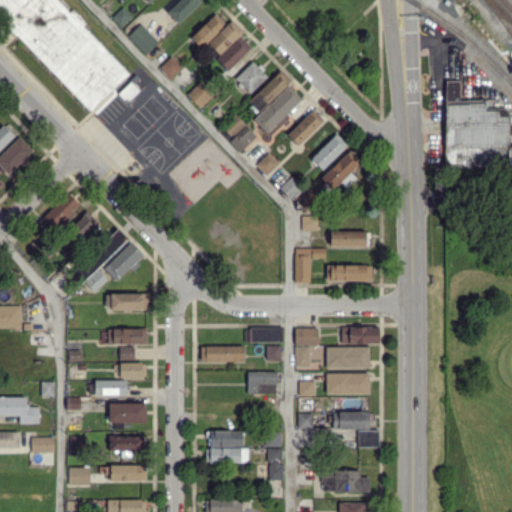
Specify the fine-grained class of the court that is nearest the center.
basketball court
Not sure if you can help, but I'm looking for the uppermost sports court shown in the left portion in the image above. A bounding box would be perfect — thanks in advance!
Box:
[123,95,168,140]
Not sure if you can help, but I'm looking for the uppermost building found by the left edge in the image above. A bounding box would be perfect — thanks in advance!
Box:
[0,0,128,116]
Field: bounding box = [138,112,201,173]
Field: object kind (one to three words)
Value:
basketball court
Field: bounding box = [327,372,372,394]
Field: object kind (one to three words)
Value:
house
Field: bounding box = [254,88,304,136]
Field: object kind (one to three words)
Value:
house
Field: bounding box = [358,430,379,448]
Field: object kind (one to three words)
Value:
building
